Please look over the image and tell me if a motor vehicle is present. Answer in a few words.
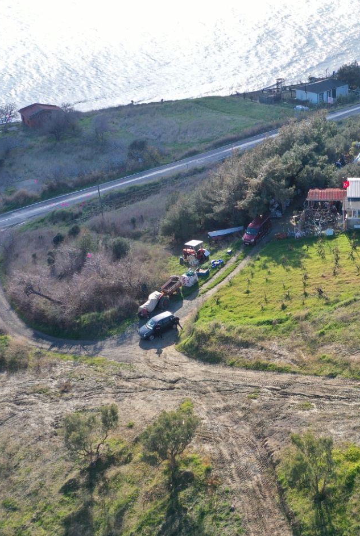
Yes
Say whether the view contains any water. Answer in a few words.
Yes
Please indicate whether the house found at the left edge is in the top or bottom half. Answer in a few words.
top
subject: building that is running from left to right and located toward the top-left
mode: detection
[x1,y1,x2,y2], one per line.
[17,102,63,127]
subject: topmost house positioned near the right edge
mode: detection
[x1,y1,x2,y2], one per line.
[294,77,351,103]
